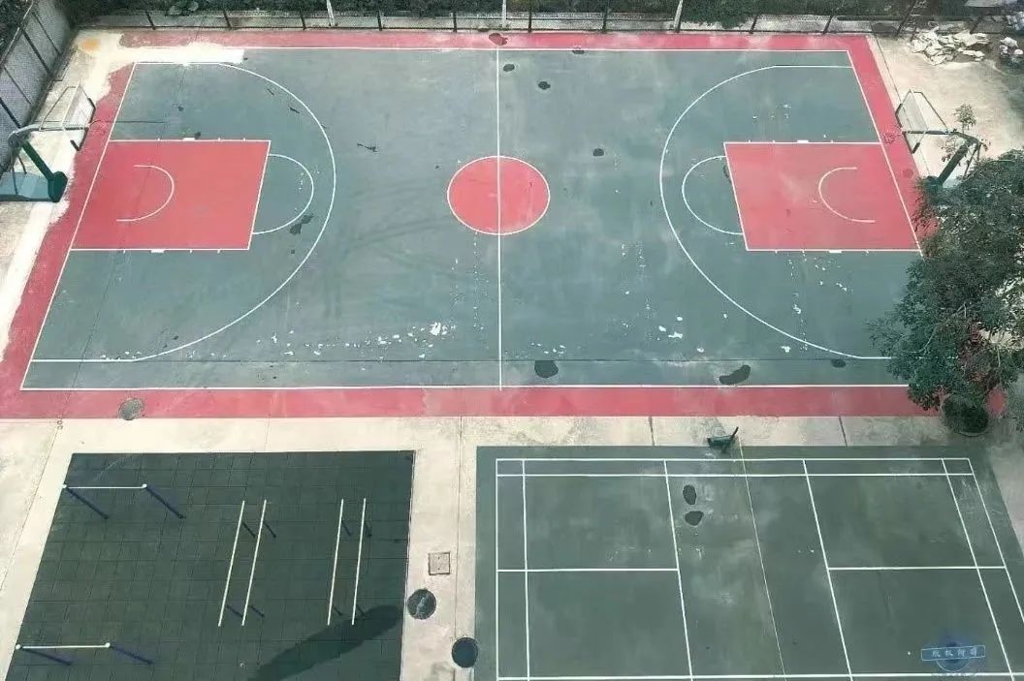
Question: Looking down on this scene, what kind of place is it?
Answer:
sports ground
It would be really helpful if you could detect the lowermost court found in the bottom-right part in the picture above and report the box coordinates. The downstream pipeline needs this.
[475,445,1024,681]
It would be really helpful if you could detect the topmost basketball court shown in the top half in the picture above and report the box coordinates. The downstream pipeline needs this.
[0,32,1021,421]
